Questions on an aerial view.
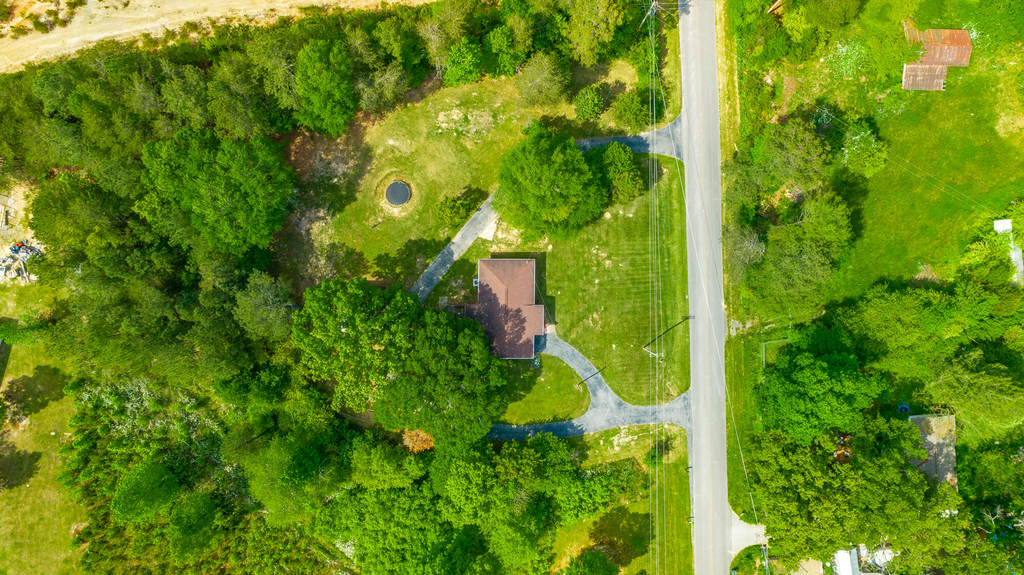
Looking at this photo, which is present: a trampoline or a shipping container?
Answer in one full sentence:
The one in the frame is a trampoline.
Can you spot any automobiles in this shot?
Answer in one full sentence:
No, no automobile is visible in the scene.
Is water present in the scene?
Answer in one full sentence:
No, there's no water in this view.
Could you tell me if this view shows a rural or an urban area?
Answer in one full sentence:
From above, the setting appears rural.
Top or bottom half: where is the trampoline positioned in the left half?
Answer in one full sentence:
The trampoline positioned in the left half is in the top half of the image.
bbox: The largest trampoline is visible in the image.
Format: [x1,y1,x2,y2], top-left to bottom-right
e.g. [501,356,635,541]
[386,181,411,206]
